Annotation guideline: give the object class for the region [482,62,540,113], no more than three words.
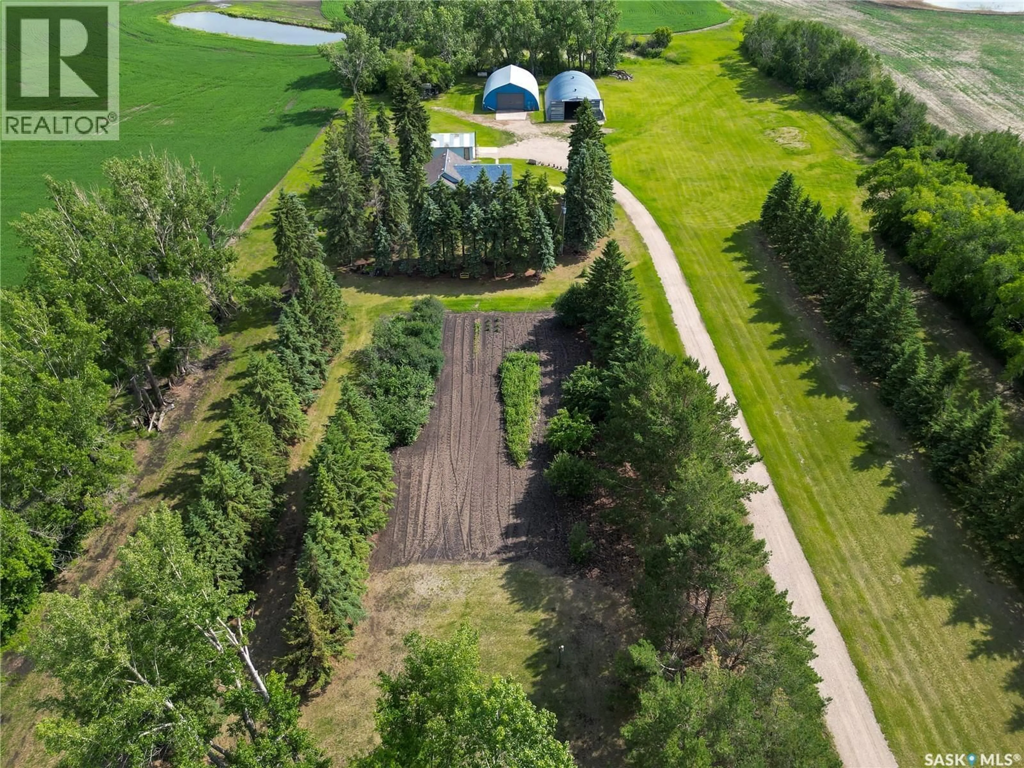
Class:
building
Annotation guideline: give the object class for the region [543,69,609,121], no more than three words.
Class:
shed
